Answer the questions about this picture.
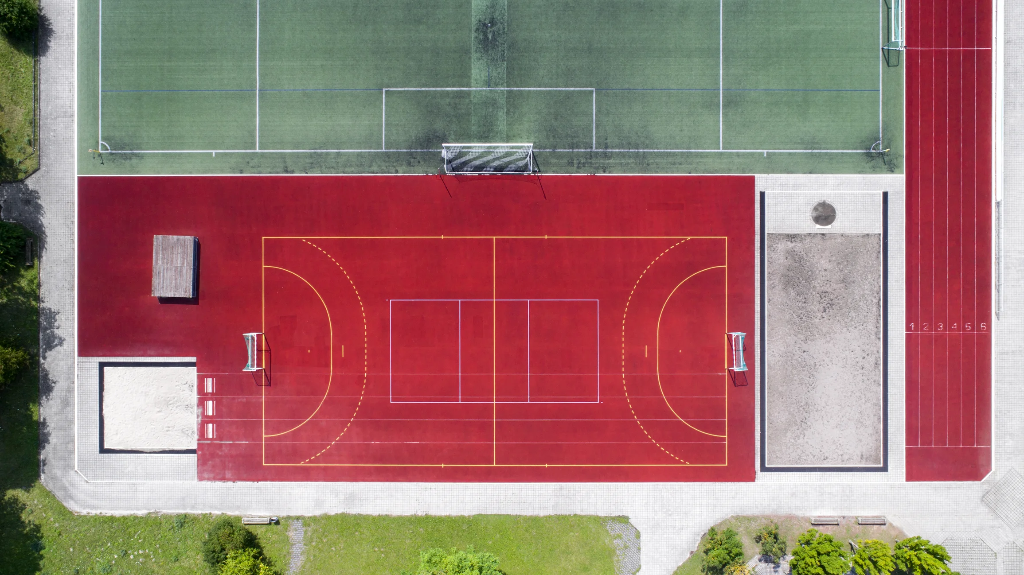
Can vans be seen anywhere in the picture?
No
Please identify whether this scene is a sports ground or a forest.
sports ground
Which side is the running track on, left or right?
right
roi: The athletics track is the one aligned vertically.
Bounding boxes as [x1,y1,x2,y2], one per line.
[906,0,992,481]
